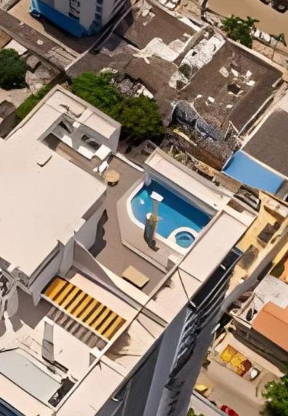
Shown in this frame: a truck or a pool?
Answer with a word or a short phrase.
pool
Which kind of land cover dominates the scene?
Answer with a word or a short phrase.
buildings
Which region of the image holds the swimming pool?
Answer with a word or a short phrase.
center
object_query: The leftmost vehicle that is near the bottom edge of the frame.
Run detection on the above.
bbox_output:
[192,380,210,397]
